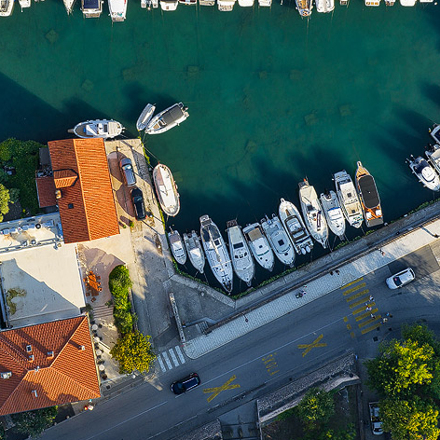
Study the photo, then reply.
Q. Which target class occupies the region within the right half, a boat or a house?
boat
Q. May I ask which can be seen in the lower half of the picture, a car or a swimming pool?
car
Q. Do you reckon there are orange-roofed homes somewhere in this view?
Yes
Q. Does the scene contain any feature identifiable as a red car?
No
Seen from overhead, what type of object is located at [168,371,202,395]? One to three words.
car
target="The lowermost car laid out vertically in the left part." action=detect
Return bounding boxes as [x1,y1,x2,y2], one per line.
[130,188,148,222]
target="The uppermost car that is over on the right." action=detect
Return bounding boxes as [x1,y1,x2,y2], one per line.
[383,266,418,290]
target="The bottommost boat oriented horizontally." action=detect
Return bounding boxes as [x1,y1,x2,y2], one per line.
[63,119,126,139]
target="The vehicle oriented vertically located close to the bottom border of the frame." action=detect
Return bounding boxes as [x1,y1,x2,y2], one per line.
[369,401,385,435]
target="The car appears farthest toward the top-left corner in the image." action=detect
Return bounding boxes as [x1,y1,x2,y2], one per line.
[119,157,138,187]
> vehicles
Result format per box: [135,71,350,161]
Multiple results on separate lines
[130,188,148,222]
[119,157,138,187]
[369,401,385,435]
[168,371,202,395]
[383,266,418,290]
